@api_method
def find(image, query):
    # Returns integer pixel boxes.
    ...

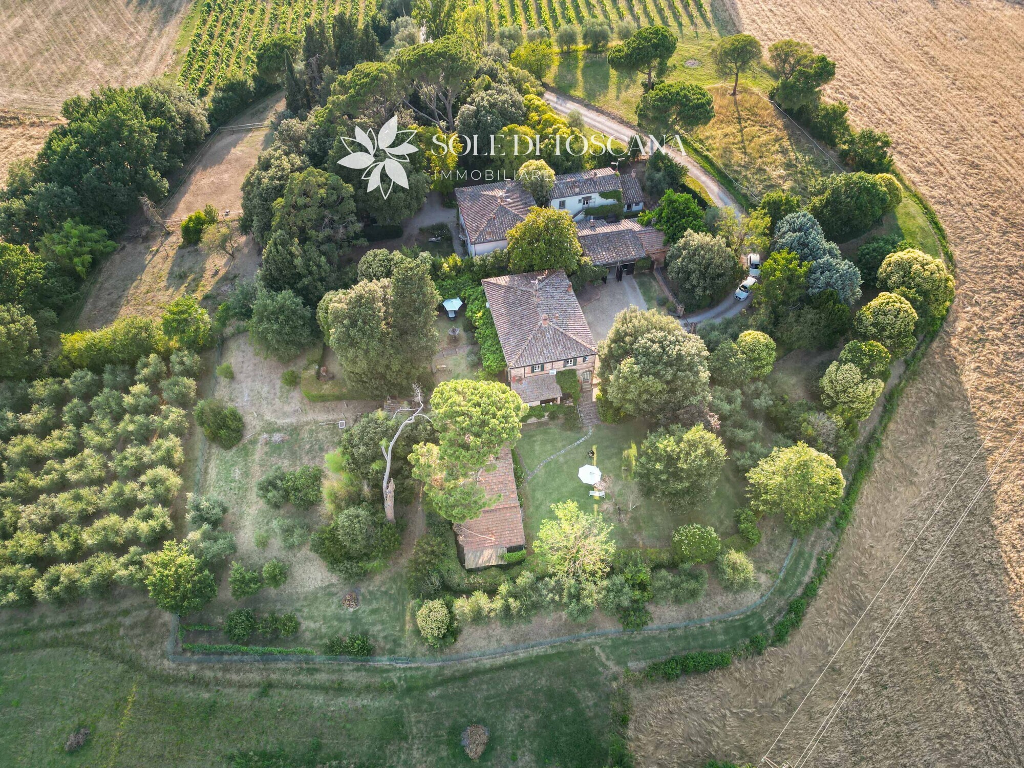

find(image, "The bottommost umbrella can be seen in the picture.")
[577,466,604,488]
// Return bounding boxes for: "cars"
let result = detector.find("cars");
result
[736,277,755,301]
[746,255,762,279]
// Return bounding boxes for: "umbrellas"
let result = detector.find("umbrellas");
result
[577,466,604,488]
[444,300,462,319]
